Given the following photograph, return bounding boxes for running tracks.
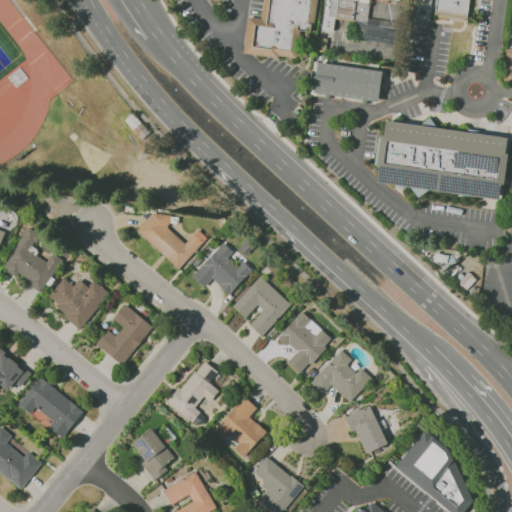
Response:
[0,0,73,164]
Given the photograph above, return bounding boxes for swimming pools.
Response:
[350,347,370,368]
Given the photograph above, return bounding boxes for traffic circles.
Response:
[448,0,512,118]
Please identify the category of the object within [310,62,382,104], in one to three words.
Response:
building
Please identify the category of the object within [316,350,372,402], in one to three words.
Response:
house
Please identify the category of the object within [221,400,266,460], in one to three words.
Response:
house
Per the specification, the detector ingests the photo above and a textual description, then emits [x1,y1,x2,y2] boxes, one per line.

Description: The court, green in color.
[0,22,26,80]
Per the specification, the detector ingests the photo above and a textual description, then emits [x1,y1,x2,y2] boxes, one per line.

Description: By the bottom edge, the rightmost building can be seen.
[398,432,474,512]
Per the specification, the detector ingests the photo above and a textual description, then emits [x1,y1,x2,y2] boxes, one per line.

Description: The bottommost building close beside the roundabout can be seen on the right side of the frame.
[374,118,508,197]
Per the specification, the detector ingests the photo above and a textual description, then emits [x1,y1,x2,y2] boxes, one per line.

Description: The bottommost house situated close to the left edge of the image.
[0,428,41,490]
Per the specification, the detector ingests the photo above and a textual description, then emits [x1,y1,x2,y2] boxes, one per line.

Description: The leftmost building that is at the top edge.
[244,0,317,57]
